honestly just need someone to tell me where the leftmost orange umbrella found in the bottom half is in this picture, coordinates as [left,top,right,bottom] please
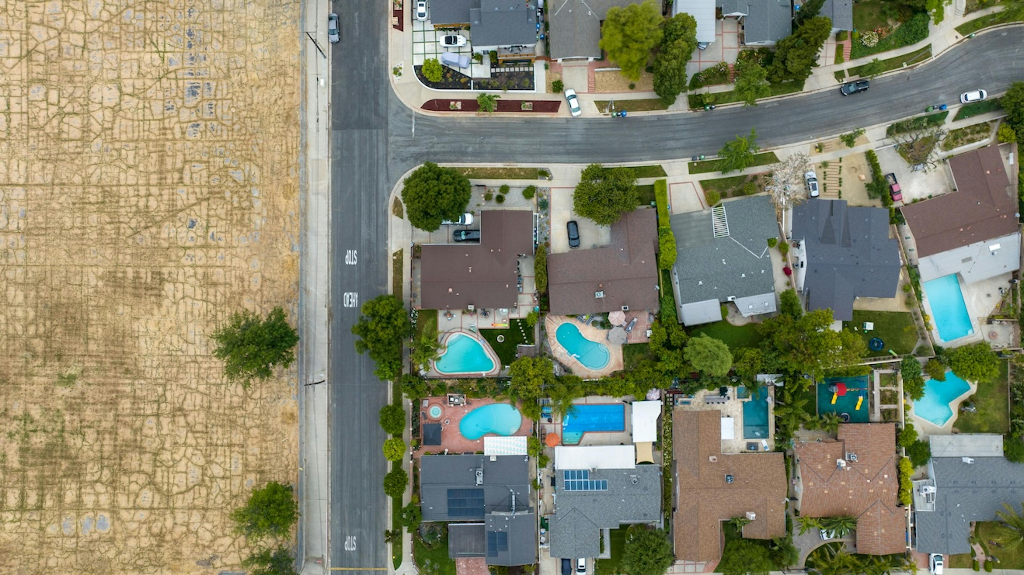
[545,433,559,447]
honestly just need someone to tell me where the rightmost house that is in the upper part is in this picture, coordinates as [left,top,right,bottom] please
[899,144,1021,258]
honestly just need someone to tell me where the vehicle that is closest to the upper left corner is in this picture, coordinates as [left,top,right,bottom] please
[328,14,341,43]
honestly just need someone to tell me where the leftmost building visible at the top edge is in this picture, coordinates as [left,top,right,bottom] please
[430,0,536,49]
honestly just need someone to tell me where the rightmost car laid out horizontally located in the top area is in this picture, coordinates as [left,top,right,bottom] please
[958,89,987,104]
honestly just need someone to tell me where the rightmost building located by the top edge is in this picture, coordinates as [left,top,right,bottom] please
[819,0,852,33]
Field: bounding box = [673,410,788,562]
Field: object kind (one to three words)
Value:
house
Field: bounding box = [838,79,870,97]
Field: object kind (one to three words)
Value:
vehicle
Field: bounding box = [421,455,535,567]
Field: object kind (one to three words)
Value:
house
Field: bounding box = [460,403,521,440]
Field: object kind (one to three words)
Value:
swimming pool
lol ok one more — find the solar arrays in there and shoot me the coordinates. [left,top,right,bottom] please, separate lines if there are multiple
[498,532,507,551]
[448,490,484,499]
[565,471,589,480]
[565,481,607,491]
[488,532,498,557]
[448,509,485,517]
